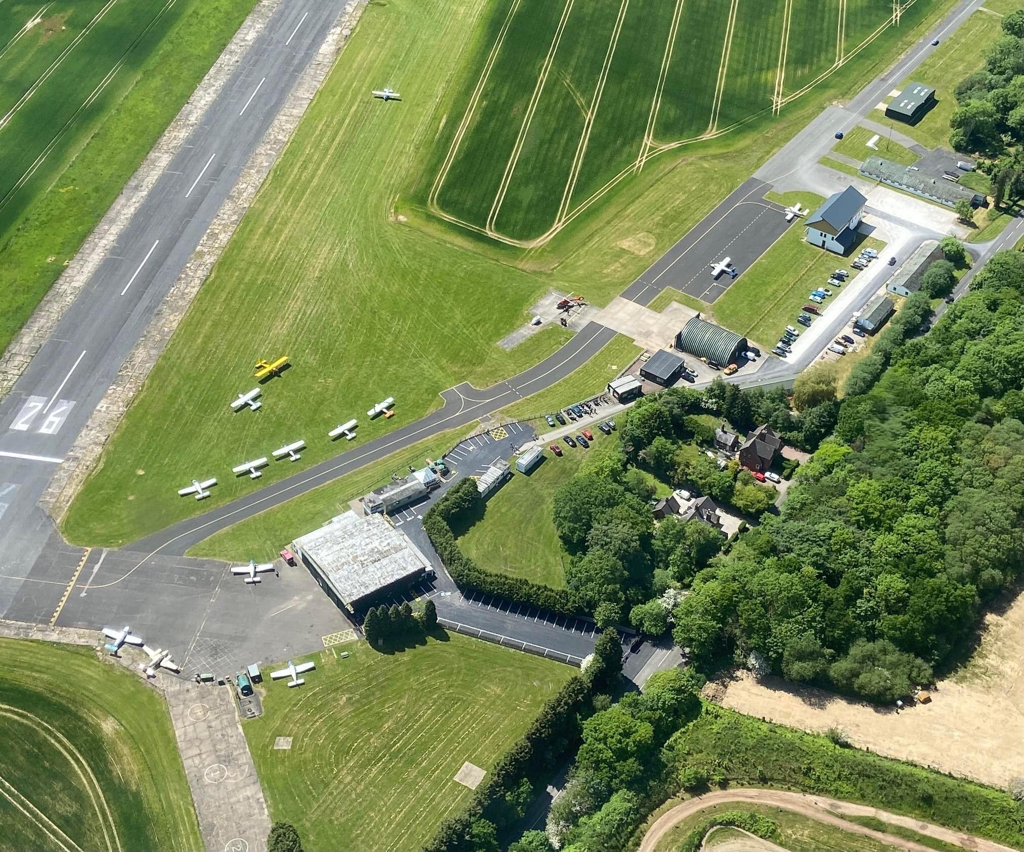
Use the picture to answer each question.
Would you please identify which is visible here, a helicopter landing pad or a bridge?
helicopter landing pad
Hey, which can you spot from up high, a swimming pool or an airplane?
airplane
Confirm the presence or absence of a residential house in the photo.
Yes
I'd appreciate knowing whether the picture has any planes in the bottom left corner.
Yes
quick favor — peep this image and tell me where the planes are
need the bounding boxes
[136,646,178,675]
[268,660,316,685]
[230,388,262,409]
[270,440,306,460]
[99,624,147,650]
[710,255,737,279]
[327,418,359,439]
[177,478,217,499]
[366,398,396,418]
[255,358,287,378]
[231,457,269,478]
[229,559,275,581]
[372,88,402,102]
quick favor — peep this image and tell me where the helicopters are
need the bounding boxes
[552,292,584,309]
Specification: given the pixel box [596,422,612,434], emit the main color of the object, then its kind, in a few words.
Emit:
gray vehicle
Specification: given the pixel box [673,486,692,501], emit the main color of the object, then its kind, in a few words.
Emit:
white vehicle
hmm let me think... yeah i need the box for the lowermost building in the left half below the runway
[292,506,438,621]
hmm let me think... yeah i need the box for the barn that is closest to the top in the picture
[884,83,935,125]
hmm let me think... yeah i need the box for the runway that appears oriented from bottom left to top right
[0,0,348,512]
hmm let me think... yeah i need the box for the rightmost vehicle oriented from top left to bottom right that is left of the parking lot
[279,547,296,565]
